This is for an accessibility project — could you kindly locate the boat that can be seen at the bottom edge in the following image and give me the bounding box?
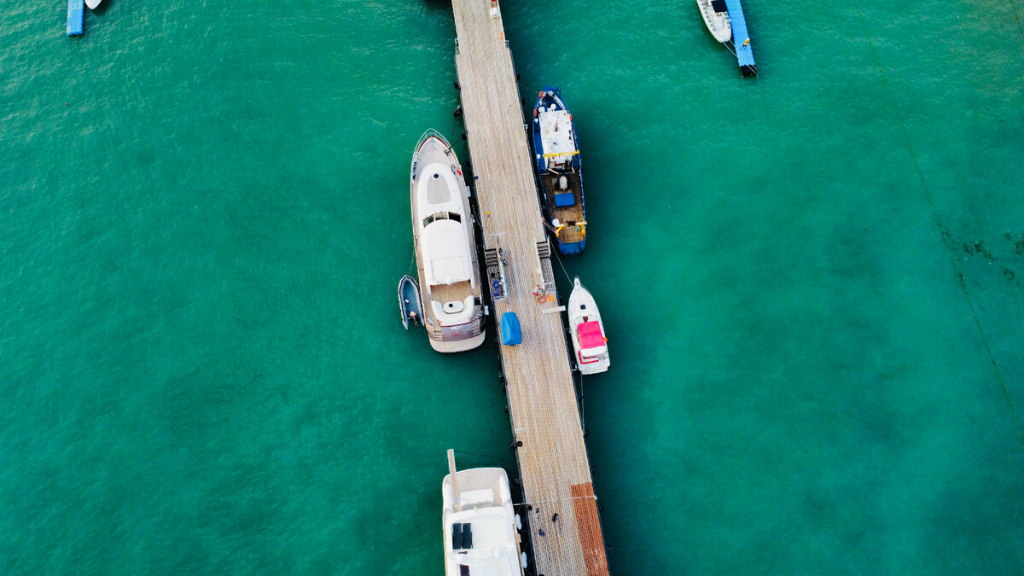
[443,448,527,576]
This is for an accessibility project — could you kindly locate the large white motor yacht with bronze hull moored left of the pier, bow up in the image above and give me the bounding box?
[409,129,486,354]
